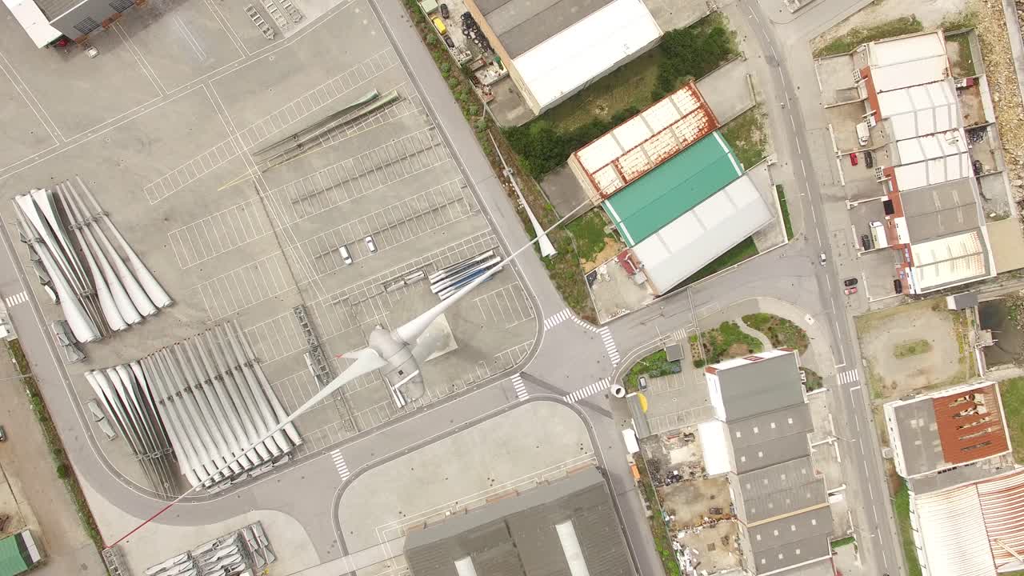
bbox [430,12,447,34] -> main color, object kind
yellow vehicle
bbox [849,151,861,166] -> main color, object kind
red vehicle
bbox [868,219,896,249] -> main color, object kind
white truck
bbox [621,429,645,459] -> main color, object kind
white truck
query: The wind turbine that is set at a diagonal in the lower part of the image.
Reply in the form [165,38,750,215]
[119,180,626,542]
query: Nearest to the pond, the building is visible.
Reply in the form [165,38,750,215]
[942,291,979,310]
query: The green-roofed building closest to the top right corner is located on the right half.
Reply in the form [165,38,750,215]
[597,130,744,248]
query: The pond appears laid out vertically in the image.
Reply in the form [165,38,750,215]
[979,295,1024,373]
